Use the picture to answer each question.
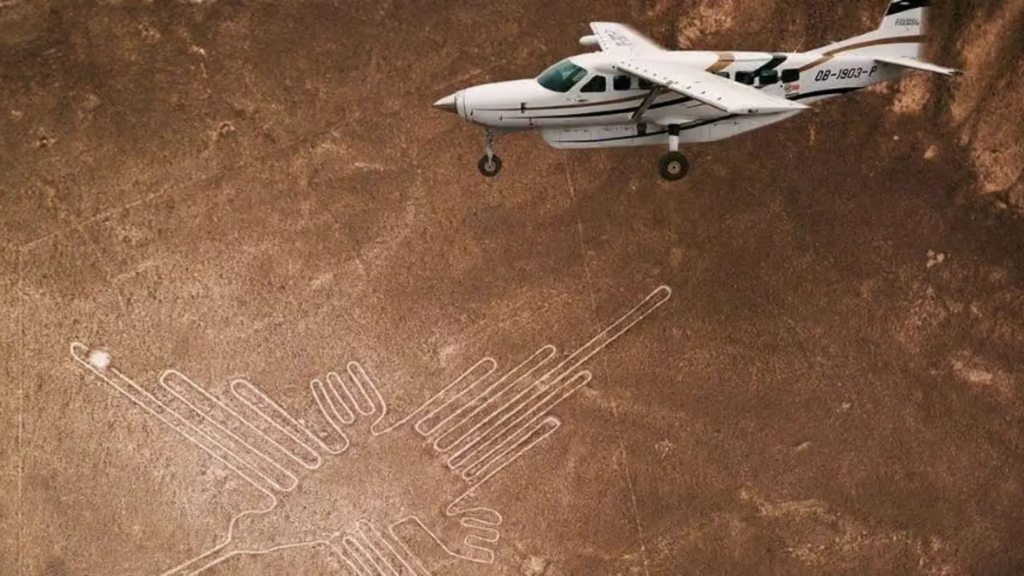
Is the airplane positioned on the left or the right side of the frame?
right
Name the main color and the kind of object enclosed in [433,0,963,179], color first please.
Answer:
white airplane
